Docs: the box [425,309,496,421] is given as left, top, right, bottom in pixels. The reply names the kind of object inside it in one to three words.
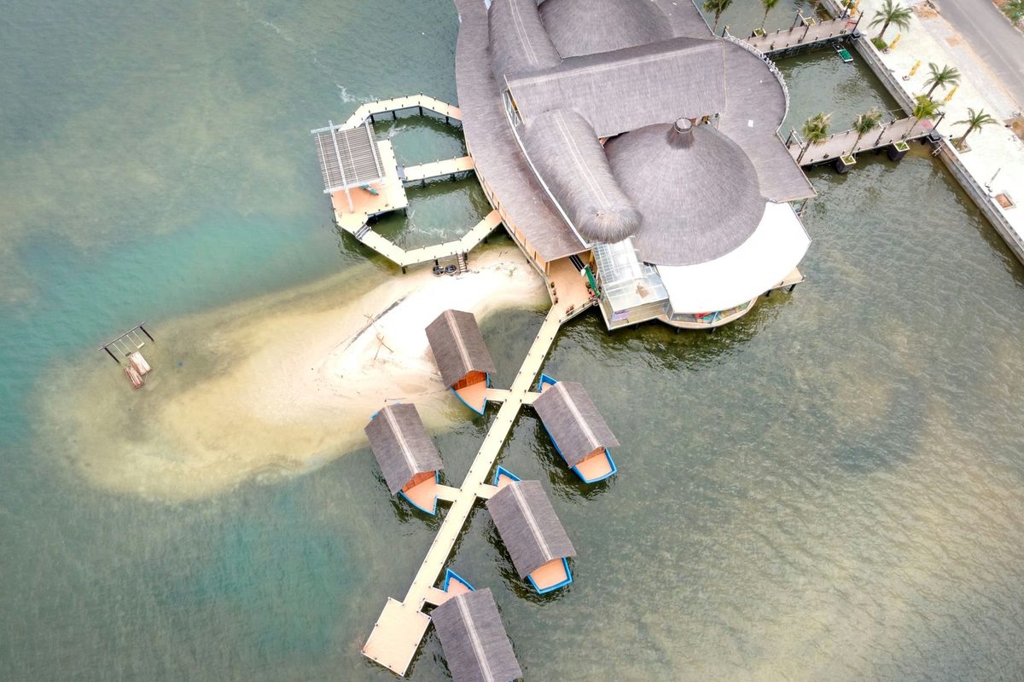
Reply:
building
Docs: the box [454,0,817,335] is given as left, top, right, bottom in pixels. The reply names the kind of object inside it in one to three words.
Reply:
building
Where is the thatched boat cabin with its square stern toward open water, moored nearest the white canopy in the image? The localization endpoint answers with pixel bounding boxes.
[534,373,618,488]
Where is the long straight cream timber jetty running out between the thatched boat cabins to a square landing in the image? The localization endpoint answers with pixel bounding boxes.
[362,306,561,676]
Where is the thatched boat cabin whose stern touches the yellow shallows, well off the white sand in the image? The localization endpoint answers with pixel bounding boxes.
[364,401,445,522]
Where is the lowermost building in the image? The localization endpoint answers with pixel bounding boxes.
[431,567,523,682]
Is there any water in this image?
Yes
